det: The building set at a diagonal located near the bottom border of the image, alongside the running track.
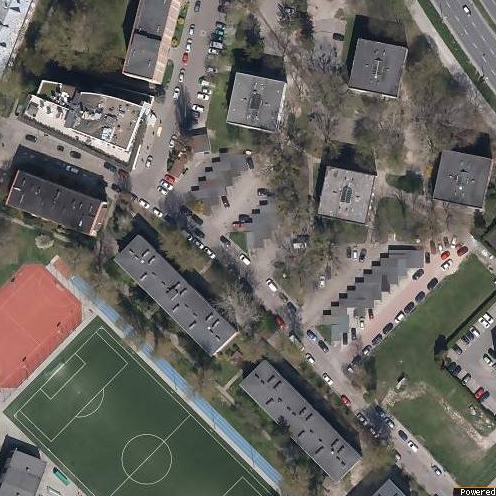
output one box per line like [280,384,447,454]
[241,360,362,481]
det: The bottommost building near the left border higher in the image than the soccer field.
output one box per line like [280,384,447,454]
[8,170,109,237]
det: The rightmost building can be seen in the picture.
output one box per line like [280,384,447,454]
[433,151,493,209]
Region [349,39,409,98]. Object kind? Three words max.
building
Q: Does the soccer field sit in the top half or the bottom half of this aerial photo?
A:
bottom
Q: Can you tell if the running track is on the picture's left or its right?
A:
left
